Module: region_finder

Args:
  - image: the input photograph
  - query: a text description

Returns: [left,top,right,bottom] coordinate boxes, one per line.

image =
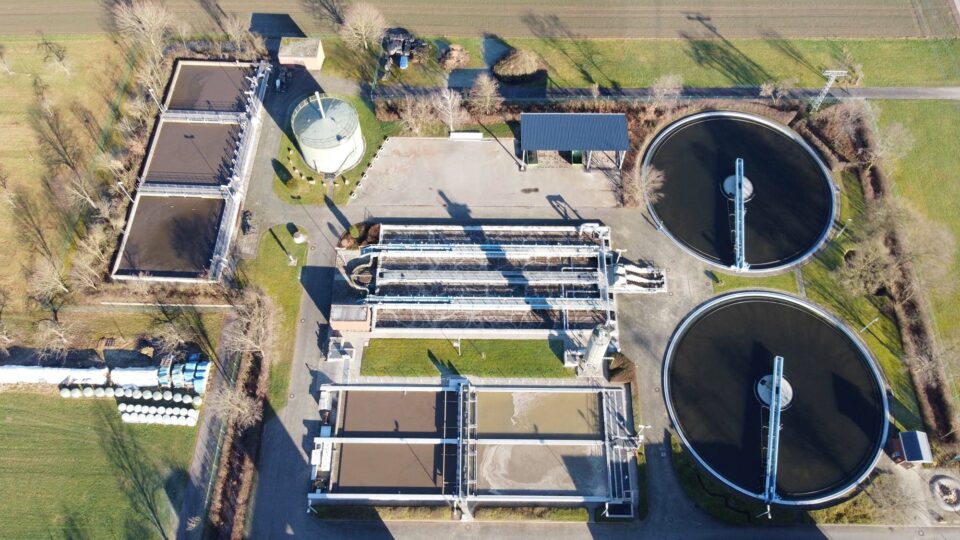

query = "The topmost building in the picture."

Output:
[278,38,324,78]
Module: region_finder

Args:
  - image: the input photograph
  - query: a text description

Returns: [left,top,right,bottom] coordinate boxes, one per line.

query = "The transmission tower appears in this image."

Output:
[802,69,855,124]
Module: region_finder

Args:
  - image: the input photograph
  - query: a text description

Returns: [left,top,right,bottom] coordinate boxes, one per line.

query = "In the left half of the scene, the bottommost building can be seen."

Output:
[328,305,368,331]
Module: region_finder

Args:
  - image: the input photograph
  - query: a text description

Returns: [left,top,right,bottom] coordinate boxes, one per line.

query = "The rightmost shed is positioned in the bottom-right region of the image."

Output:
[891,429,932,465]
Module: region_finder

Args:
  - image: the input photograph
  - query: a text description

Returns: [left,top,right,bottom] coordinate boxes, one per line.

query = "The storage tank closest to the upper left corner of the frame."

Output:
[290,89,368,181]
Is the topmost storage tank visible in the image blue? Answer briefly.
No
